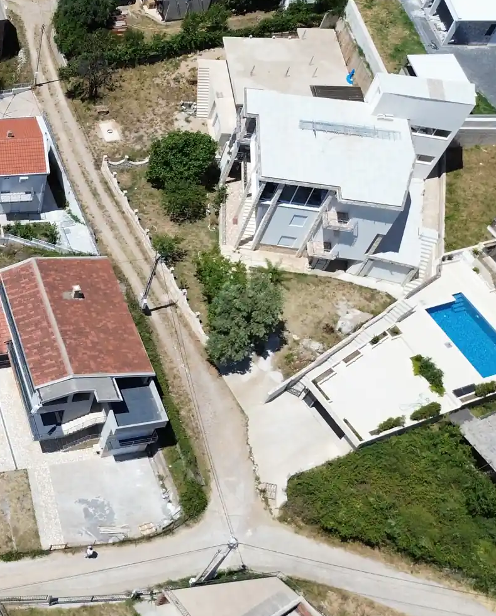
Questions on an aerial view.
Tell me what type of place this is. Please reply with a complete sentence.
The picture captures a residential area.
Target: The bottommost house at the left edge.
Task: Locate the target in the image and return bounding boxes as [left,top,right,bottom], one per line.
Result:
[0,256,170,461]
